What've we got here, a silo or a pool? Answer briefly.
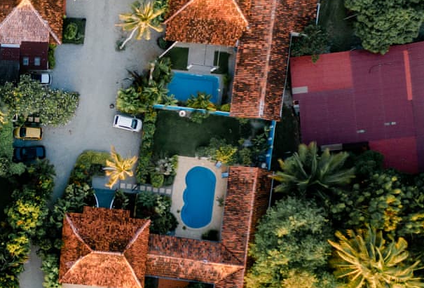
pool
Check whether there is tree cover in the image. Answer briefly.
Yes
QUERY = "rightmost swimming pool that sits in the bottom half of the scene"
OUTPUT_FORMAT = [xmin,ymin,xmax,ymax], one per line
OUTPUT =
[175,160,222,234]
